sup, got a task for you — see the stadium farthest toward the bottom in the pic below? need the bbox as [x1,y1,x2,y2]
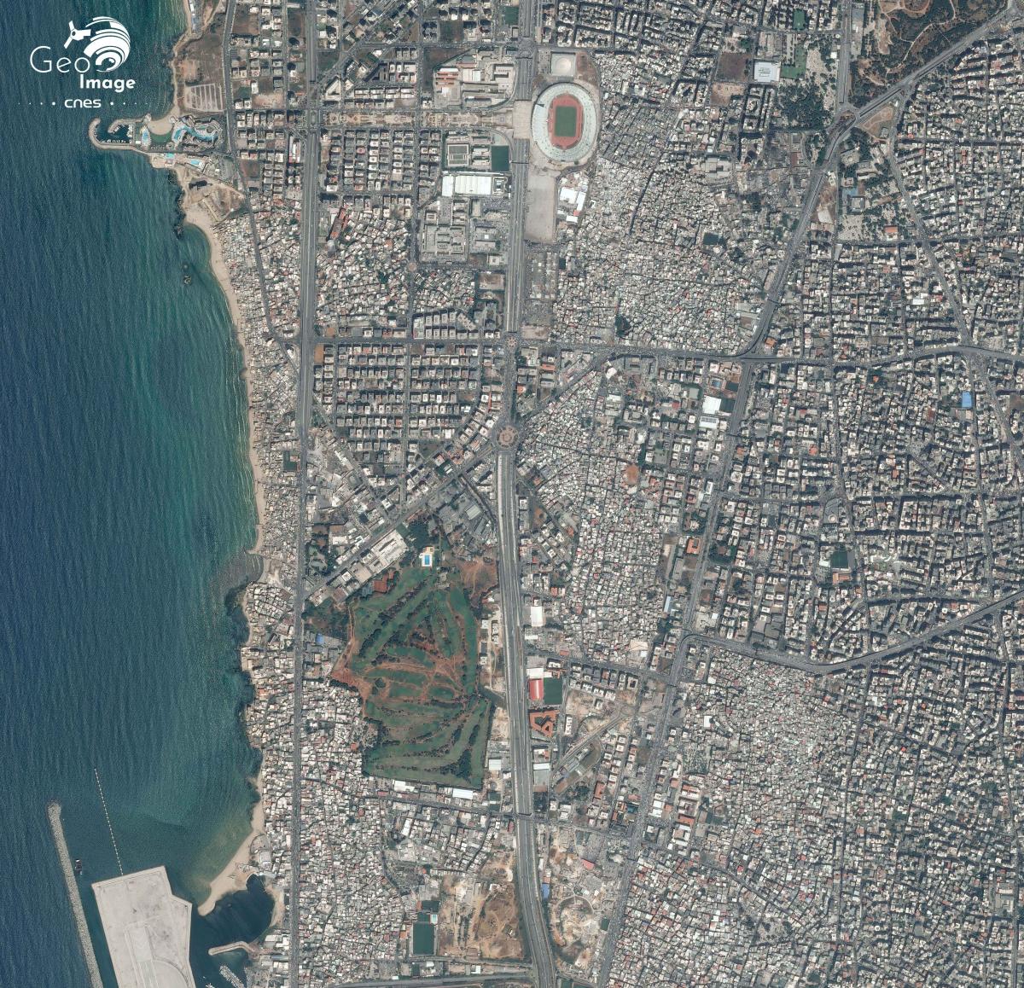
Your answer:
[531,81,597,162]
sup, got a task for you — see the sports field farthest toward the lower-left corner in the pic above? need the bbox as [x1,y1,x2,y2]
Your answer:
[412,922,435,955]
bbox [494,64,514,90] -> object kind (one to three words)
building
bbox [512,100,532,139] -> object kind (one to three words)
bridge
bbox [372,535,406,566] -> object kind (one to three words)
building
